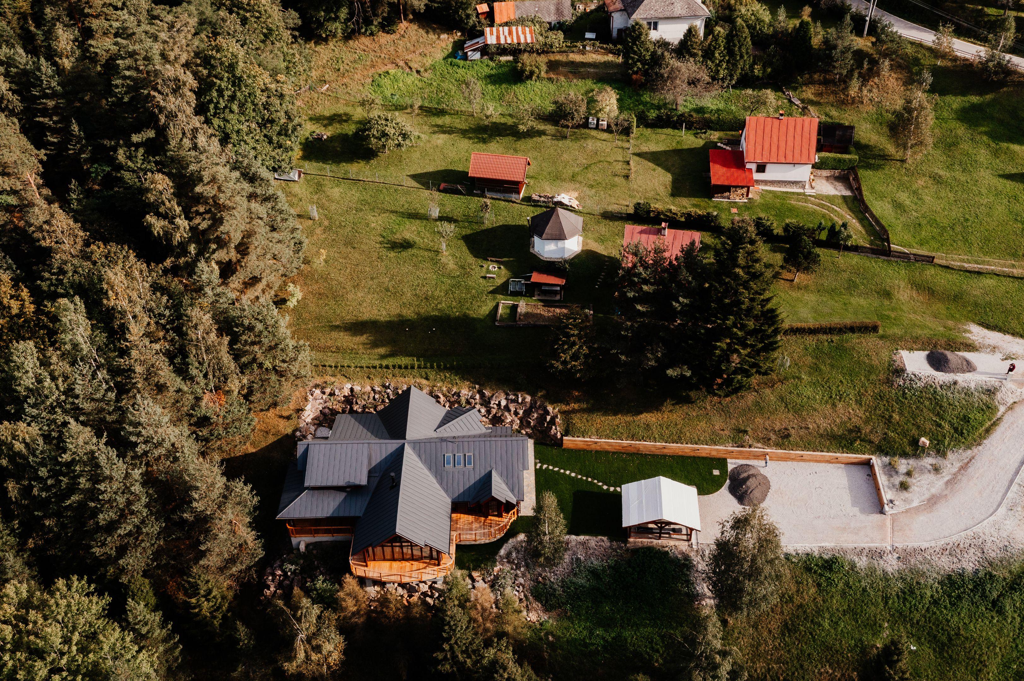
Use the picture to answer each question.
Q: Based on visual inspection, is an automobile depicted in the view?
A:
No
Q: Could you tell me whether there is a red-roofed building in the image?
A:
Yes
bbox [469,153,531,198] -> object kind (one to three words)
barn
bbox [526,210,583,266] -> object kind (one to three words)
house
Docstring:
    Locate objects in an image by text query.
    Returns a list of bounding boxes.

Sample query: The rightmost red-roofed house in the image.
[731,112,817,194]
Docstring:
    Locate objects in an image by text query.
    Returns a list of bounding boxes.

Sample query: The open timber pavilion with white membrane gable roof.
[620,476,703,544]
